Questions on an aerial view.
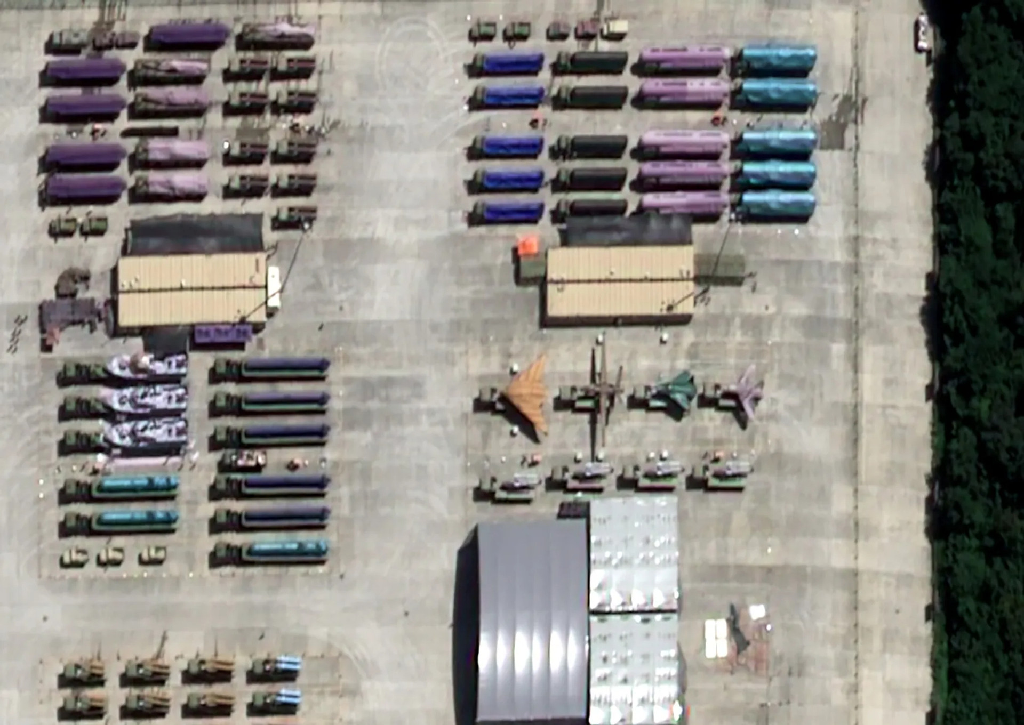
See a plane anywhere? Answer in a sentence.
Yes, you can see a plane in this photo.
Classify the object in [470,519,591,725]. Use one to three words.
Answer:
hangar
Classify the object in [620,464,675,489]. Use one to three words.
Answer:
truck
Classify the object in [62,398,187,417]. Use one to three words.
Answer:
vehicle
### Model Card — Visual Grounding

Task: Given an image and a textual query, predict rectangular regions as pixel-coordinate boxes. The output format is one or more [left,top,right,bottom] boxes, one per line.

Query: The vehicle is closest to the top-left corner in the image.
[50,30,88,50]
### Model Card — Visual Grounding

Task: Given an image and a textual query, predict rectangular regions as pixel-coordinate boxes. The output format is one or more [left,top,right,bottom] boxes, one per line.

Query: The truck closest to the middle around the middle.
[477,387,520,411]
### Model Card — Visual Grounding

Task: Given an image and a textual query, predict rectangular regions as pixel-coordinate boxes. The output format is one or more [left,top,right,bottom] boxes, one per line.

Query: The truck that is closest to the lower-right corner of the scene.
[689,464,744,489]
